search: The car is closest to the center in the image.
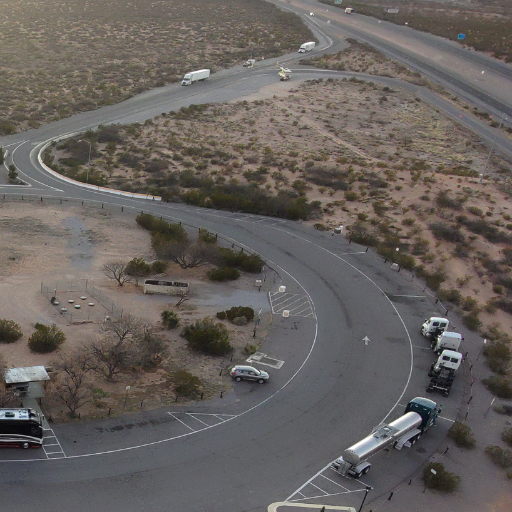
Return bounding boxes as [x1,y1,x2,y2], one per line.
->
[231,365,270,385]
